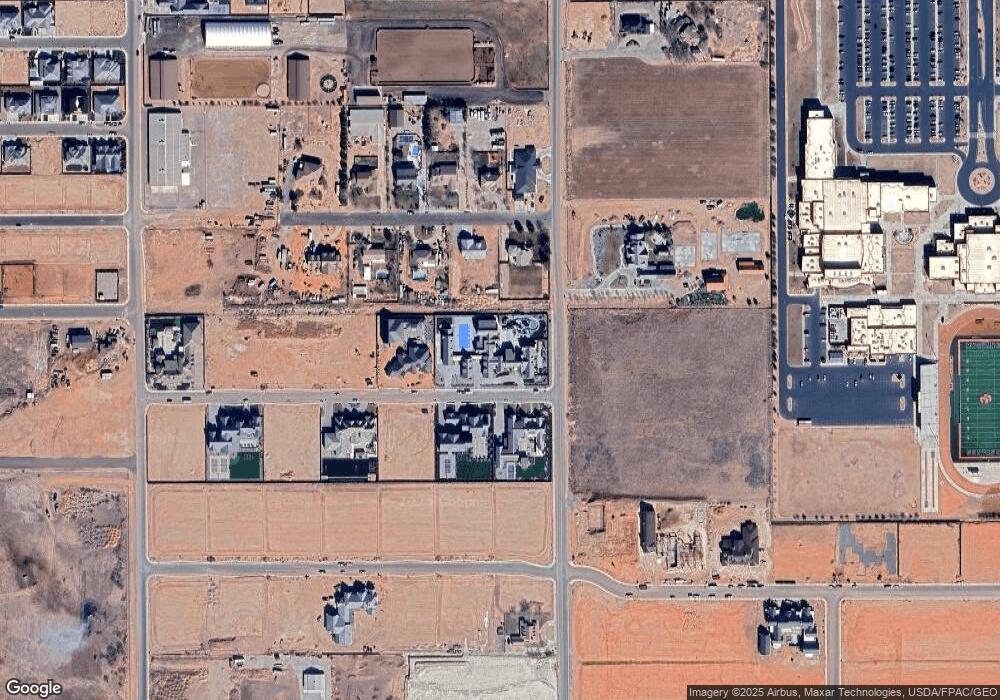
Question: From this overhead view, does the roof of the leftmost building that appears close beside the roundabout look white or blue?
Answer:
white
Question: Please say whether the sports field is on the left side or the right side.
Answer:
right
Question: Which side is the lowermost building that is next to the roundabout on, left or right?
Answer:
right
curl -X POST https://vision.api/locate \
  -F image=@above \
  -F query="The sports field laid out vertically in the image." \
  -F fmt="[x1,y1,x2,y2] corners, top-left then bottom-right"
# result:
[951,336,1000,462]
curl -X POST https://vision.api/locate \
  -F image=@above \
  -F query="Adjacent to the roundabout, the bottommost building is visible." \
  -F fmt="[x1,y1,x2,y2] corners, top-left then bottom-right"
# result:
[929,216,1000,294]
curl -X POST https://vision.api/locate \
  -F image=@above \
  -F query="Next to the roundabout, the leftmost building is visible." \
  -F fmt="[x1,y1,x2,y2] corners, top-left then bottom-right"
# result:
[799,110,937,287]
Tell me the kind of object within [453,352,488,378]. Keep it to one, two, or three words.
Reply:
house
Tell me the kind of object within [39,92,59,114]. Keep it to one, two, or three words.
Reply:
house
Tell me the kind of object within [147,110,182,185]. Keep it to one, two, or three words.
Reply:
building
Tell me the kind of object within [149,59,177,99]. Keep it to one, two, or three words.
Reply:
barn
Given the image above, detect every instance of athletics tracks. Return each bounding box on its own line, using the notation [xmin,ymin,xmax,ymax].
[937,302,1000,498]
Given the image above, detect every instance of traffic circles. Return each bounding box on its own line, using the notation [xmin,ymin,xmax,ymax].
[958,156,1000,203]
